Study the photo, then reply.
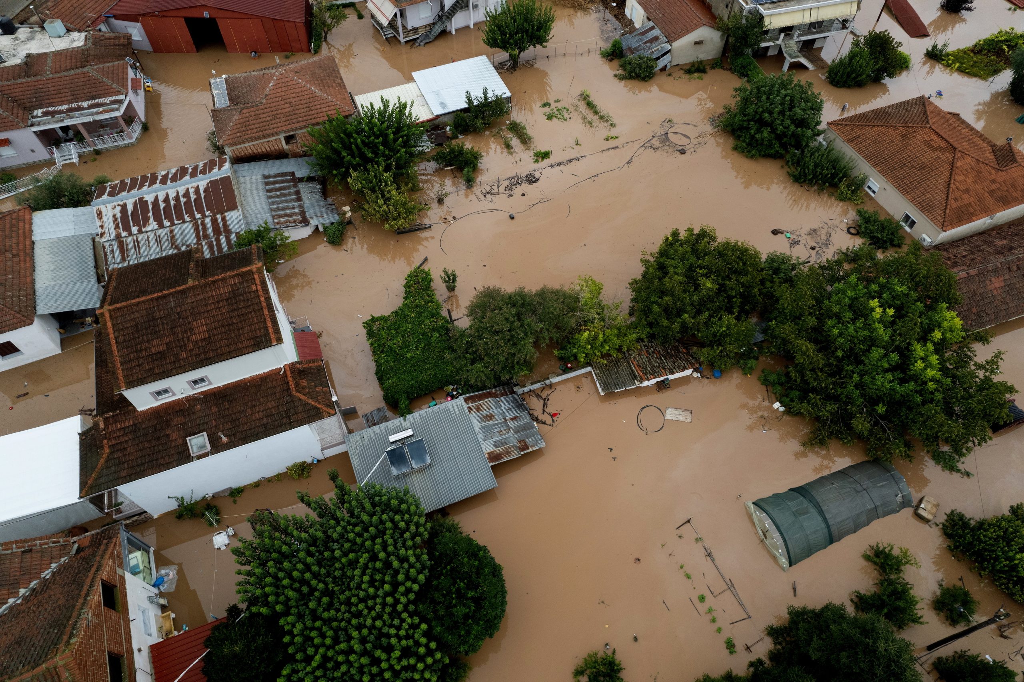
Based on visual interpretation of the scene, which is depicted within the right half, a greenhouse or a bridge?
greenhouse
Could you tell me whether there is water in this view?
Yes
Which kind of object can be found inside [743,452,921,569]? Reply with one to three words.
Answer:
greenhouse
